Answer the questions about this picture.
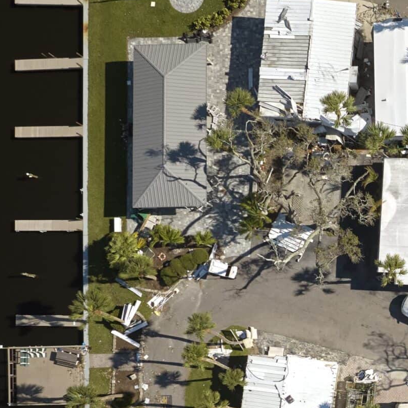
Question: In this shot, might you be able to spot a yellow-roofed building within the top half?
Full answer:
No, no yellow-roofed building appears within the top half.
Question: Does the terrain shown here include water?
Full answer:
Yes, there's water in this view.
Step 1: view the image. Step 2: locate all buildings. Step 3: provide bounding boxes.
[132,43,208,210]
[373,20,408,134]
[241,355,343,408]
[377,158,408,286]
[257,0,360,127]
